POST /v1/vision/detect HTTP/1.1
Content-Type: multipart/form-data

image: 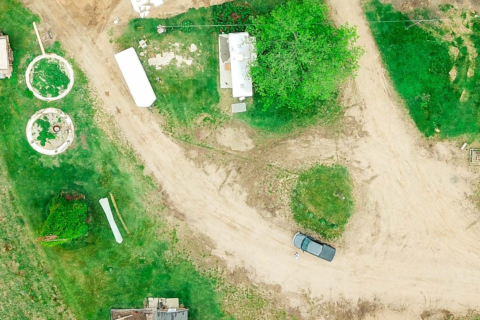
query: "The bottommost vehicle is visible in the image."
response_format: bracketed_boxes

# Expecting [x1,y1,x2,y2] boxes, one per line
[294,234,337,263]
